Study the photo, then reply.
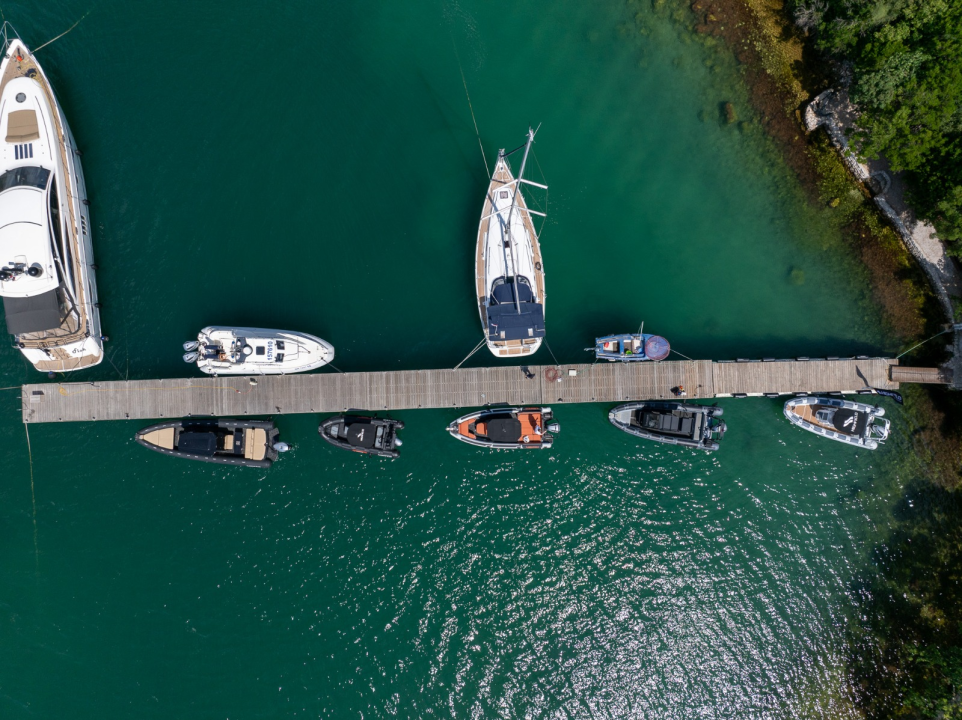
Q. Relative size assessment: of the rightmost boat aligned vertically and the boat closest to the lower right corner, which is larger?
the rightmost boat aligned vertically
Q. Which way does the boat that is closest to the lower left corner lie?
from left to right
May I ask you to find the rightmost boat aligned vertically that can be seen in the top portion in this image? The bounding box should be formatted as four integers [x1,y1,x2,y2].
[474,129,548,357]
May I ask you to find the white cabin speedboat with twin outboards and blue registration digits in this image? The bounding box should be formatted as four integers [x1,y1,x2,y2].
[182,327,333,378]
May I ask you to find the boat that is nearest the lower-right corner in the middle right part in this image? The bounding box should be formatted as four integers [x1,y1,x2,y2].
[784,399,891,449]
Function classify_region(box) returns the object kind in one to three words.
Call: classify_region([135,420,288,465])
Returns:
boat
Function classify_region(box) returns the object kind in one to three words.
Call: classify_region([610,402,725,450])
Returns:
boat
